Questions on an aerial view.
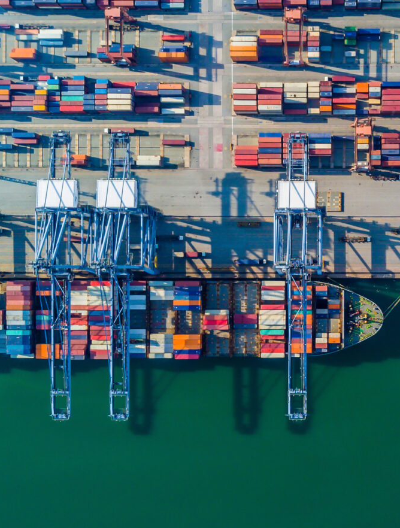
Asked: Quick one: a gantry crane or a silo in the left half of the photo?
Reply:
gantry crane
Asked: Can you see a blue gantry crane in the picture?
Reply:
Yes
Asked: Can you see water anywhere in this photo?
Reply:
Yes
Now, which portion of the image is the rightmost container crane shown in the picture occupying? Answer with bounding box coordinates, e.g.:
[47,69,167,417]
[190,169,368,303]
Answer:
[351,112,376,170]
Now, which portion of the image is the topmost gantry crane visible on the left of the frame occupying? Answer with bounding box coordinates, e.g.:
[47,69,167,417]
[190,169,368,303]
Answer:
[103,0,137,64]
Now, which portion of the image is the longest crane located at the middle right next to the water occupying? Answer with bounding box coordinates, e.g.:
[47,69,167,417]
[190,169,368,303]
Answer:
[272,130,330,421]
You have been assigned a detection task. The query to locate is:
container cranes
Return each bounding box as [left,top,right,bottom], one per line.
[103,0,137,64]
[282,0,307,64]
[94,130,172,421]
[28,130,111,421]
[272,130,330,421]
[351,112,376,170]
